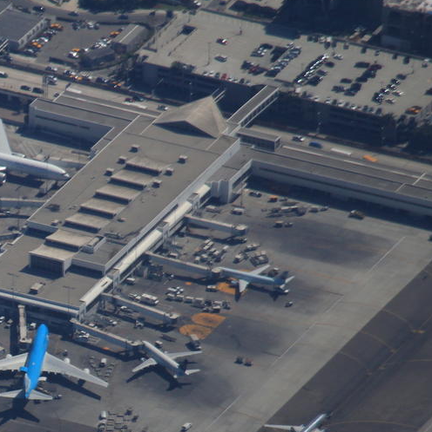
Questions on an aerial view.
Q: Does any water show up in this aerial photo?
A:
No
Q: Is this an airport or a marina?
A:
airport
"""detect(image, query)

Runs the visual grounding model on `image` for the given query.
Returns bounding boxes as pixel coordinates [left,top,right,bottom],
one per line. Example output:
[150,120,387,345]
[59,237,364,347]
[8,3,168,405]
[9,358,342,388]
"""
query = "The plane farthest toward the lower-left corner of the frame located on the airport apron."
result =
[0,326,110,404]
